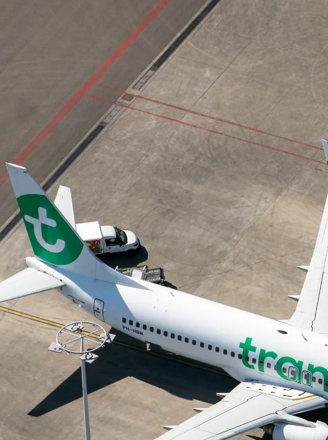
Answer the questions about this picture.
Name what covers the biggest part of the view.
paved ground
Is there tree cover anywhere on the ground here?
No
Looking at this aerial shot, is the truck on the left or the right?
left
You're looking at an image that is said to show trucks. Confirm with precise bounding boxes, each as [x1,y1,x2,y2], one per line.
[76,221,143,263]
